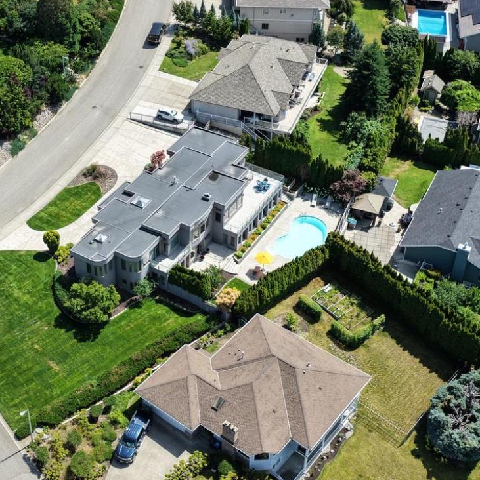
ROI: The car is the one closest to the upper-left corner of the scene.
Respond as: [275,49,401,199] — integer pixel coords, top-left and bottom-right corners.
[148,25,165,43]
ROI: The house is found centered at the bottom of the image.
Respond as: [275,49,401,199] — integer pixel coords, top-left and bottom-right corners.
[133,312,372,480]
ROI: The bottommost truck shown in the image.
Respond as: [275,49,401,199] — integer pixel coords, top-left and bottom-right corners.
[114,407,153,465]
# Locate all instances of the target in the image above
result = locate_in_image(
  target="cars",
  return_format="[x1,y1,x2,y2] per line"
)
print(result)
[152,103,187,126]
[148,25,165,43]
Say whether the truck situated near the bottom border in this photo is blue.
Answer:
Yes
